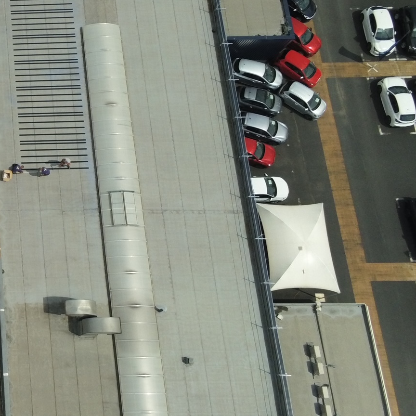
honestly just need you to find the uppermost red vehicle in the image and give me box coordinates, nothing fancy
[290,14,328,58]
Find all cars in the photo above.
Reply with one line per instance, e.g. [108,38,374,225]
[289,0,321,25]
[255,173,292,204]
[244,113,291,150]
[375,76,416,128]
[234,60,285,95]
[290,14,328,58]
[238,86,284,120]
[277,79,333,123]
[363,10,402,61]
[248,138,280,171]
[274,46,328,90]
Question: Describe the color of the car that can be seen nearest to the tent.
white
